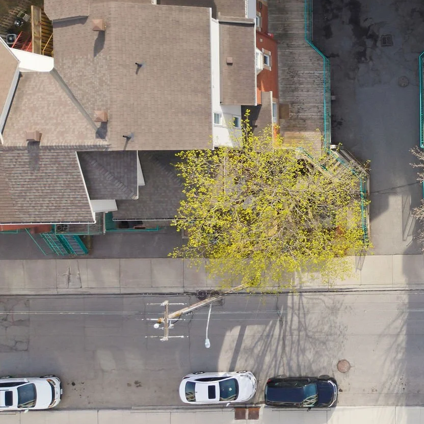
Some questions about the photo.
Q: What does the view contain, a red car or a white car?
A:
white car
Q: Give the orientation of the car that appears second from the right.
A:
from left to right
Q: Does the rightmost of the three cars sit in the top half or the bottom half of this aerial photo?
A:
bottom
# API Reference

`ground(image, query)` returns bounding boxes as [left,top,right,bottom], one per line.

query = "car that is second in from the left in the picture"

[180,370,260,409]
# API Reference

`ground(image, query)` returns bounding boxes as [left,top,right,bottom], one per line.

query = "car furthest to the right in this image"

[264,372,340,412]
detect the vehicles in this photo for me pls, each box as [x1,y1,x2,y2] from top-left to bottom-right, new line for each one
[0,374,67,414]
[264,372,340,412]
[180,370,260,409]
